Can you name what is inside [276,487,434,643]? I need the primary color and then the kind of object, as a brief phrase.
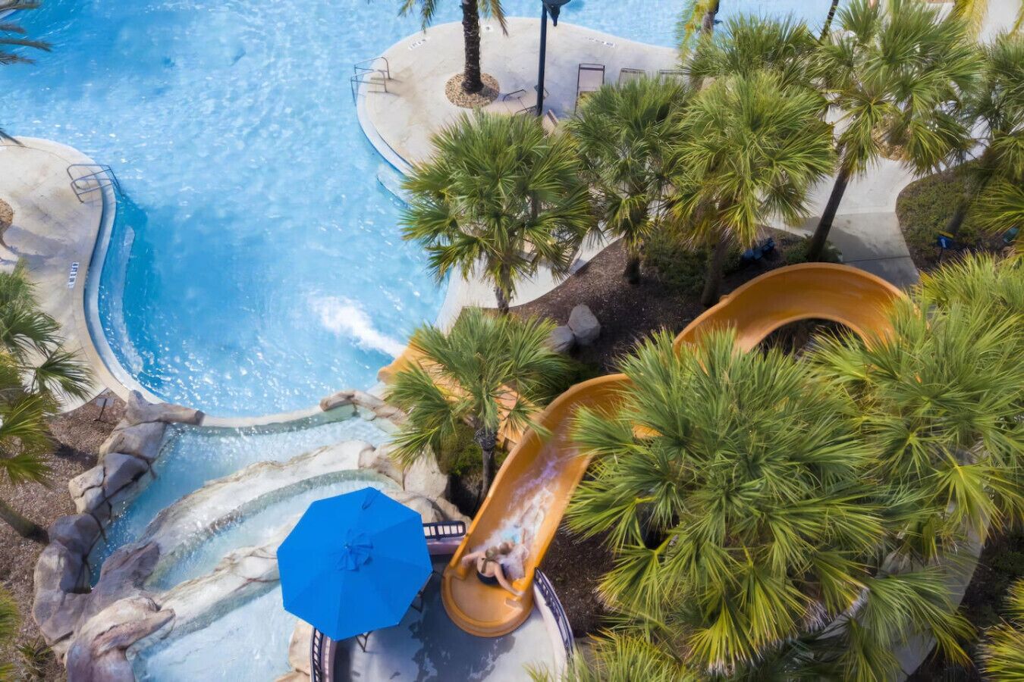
blue umbrella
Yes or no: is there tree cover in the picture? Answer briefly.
Yes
